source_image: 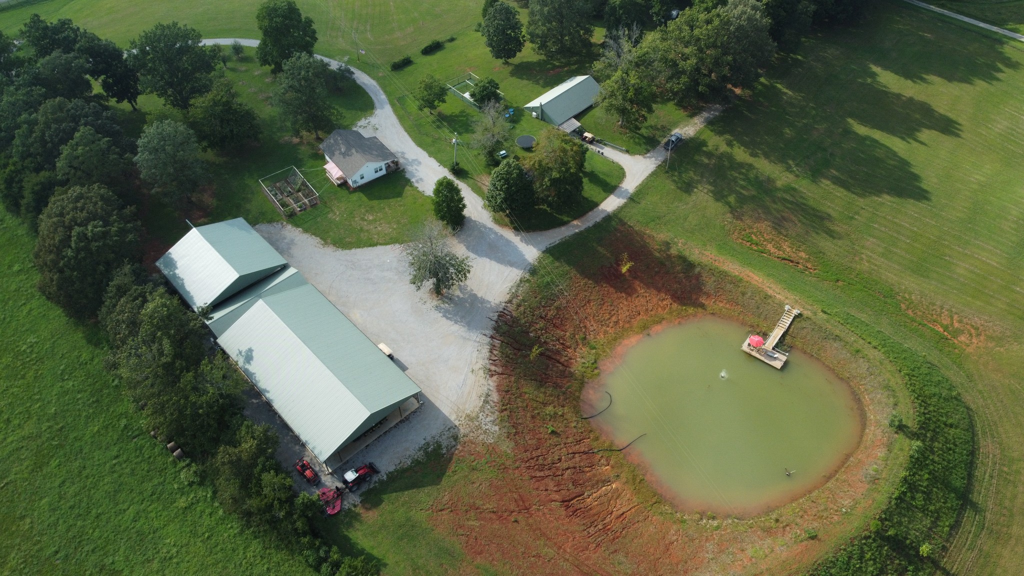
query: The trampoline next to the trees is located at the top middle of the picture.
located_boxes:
[516,136,536,151]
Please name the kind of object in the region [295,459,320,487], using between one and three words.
work vehicle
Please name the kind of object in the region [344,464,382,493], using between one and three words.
work vehicle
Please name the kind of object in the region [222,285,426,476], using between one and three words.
barn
